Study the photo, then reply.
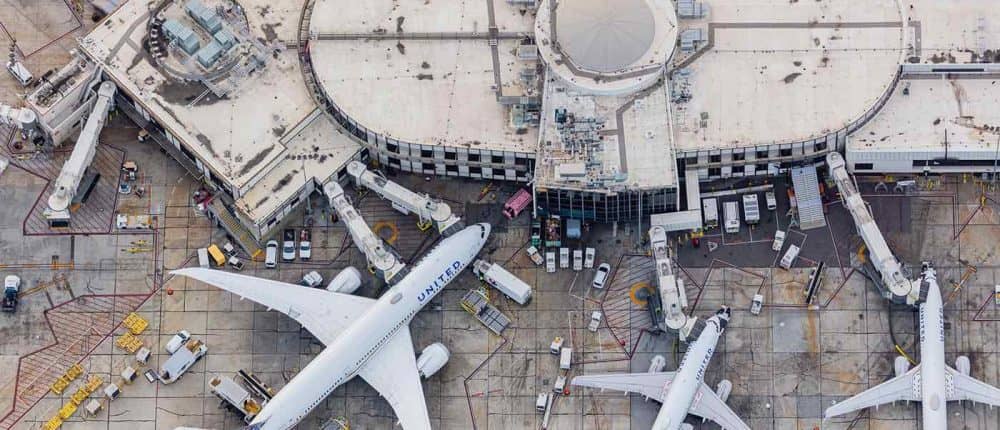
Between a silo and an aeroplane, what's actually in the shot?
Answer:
aeroplane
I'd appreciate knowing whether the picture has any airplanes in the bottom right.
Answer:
Yes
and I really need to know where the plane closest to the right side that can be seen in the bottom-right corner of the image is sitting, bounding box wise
[823,277,1000,430]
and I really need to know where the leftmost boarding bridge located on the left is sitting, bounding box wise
[0,104,39,141]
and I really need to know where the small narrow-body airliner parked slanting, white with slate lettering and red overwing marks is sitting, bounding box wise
[567,316,742,430]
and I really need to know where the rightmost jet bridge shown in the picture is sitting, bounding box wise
[824,151,927,308]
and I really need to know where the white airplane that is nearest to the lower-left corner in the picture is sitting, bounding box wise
[165,223,491,430]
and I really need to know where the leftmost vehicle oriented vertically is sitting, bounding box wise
[3,276,20,310]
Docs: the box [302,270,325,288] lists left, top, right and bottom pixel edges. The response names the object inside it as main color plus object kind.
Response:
white work vehicle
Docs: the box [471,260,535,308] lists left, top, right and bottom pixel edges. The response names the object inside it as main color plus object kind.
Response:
white truck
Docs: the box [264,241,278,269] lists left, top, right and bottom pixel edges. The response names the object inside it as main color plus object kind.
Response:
white vehicle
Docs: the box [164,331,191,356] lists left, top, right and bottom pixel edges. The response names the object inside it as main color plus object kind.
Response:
white vehicle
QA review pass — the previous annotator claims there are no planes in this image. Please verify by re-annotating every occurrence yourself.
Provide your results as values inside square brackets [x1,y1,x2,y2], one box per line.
[567,316,742,430]
[823,277,1000,430]
[165,223,491,430]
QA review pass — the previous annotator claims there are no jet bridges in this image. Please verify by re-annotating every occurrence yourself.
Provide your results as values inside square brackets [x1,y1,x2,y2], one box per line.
[322,179,410,289]
[345,159,465,241]
[0,104,39,141]
[47,82,117,235]
[824,151,927,308]
[648,226,708,344]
